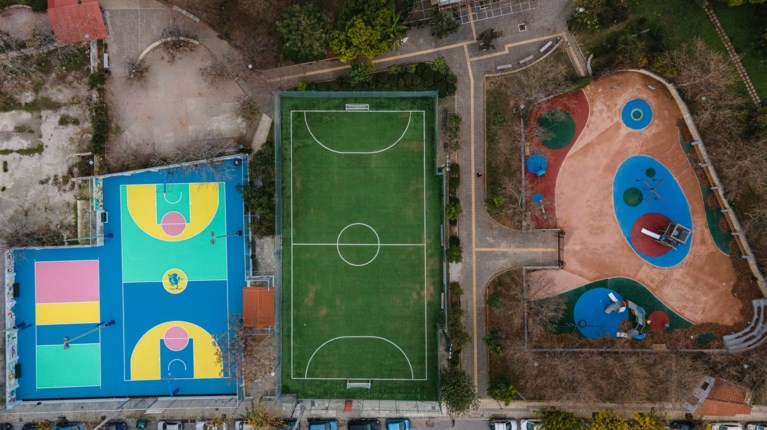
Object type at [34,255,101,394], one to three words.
sports court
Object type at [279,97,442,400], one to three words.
soccer field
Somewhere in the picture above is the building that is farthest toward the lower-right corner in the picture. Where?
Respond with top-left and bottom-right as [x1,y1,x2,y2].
[682,376,754,416]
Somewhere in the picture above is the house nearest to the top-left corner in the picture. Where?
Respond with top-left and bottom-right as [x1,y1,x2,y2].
[47,0,108,45]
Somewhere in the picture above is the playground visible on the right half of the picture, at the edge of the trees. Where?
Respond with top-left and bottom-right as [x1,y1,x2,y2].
[527,70,743,345]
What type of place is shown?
sports ground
